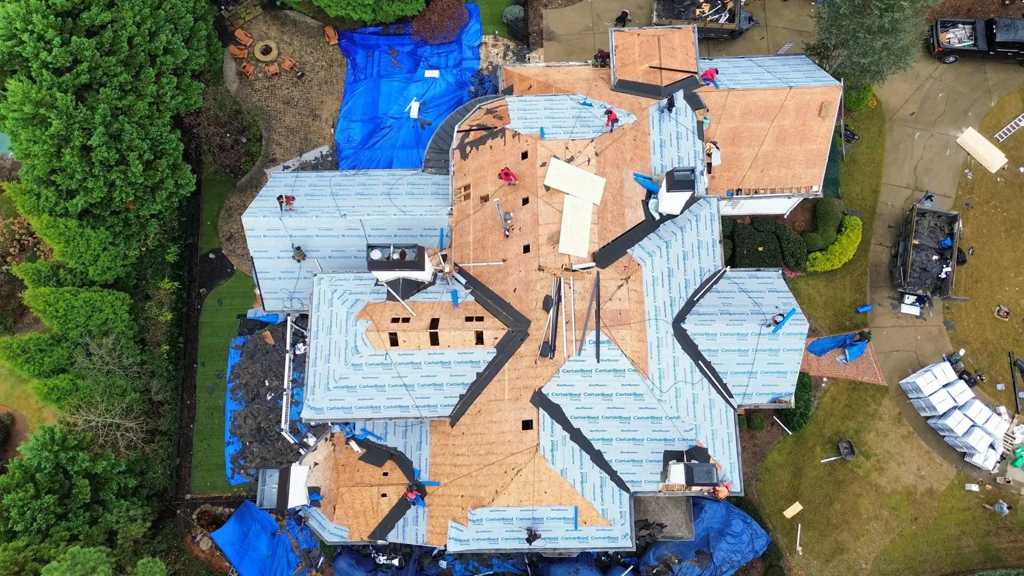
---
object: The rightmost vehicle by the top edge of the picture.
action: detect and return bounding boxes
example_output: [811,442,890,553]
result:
[926,14,1024,63]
